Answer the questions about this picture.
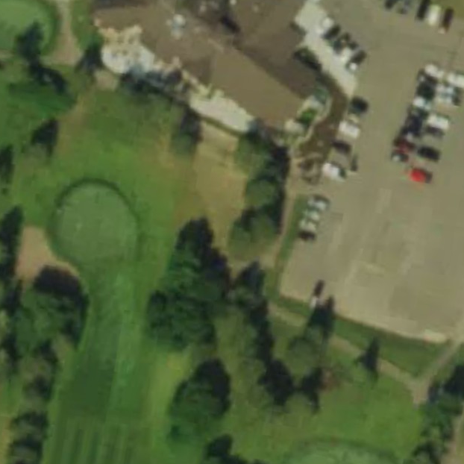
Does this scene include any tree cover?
Yes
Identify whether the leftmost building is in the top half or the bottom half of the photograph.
top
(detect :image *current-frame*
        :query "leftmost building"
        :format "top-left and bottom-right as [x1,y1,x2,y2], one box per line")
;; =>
[94,0,322,126]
